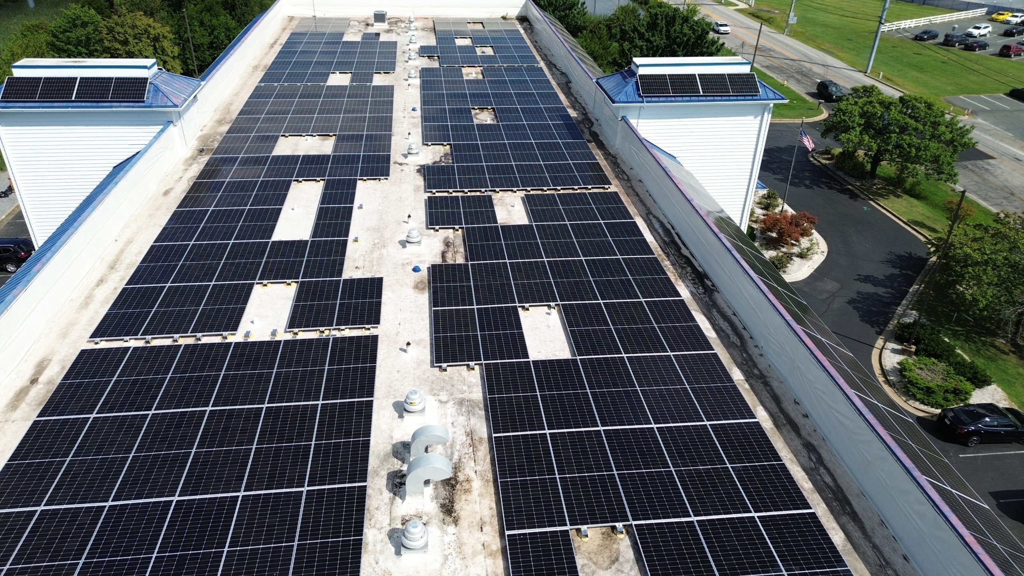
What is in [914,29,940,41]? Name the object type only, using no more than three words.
vehicle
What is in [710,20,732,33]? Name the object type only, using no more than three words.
vehicle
